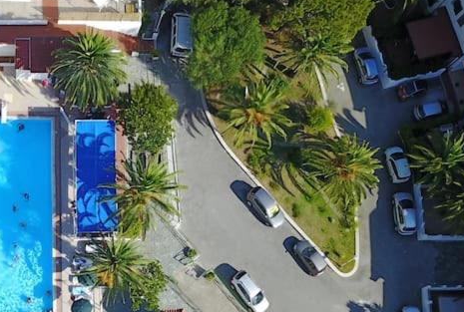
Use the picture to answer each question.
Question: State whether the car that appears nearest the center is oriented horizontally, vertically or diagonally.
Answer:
diagonally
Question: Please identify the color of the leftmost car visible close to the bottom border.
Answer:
white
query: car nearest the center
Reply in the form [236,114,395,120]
[245,184,285,230]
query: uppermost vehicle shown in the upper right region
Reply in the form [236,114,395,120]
[353,47,380,87]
